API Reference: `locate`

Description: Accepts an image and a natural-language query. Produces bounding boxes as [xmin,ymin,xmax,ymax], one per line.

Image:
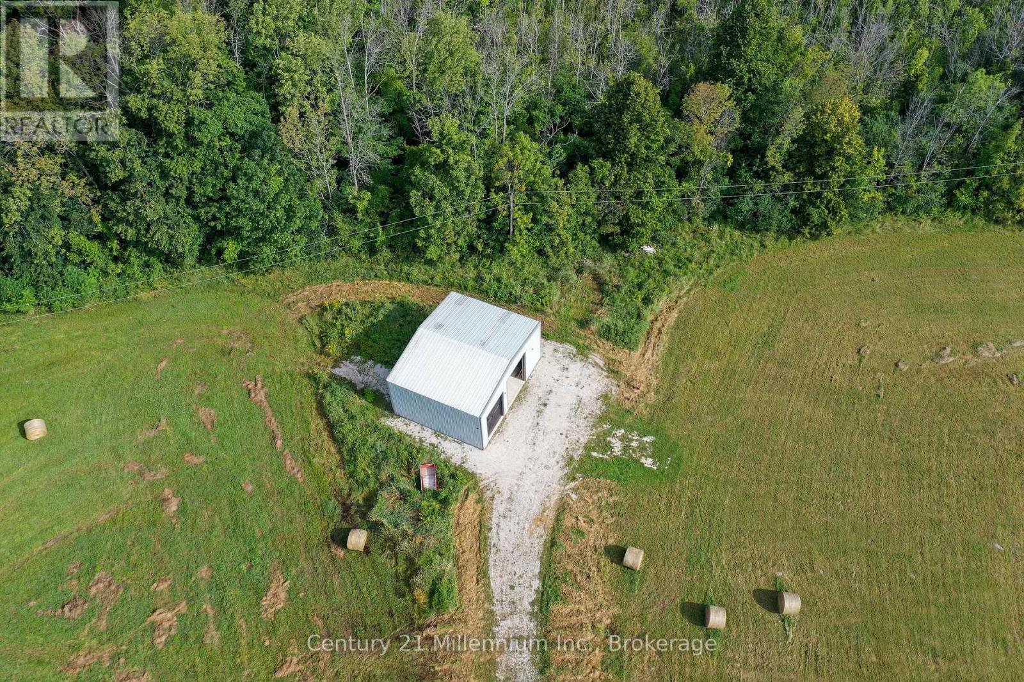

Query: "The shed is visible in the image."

[385,292,541,451]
